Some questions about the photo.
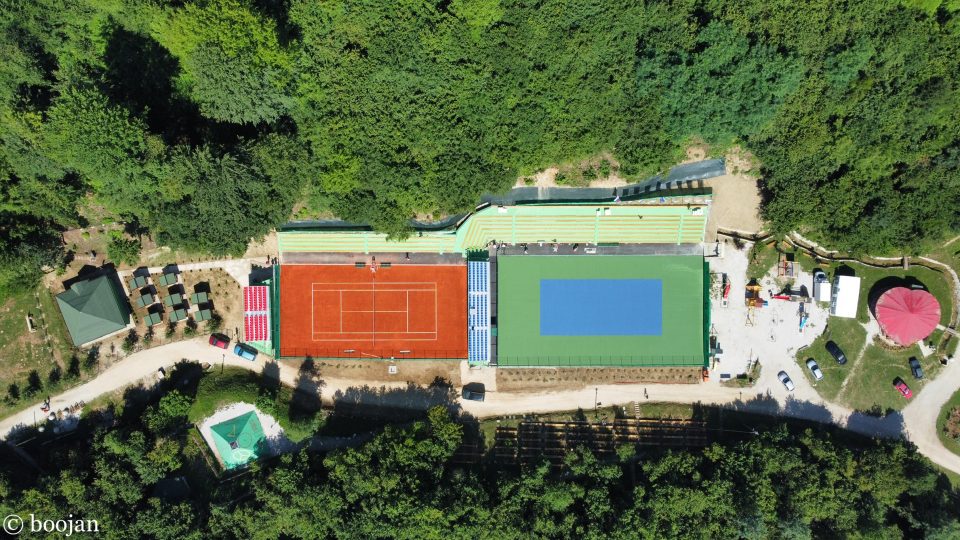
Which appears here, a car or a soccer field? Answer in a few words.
car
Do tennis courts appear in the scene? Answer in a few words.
Yes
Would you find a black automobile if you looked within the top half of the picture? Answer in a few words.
No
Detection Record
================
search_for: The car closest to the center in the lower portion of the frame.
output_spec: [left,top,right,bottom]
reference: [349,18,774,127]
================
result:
[462,389,486,401]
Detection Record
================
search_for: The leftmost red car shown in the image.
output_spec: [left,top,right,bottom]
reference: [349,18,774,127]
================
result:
[209,335,231,349]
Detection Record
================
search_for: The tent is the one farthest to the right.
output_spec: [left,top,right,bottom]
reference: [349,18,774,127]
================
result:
[828,276,861,318]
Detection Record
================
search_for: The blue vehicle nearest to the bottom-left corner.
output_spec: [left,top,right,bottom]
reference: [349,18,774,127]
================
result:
[234,345,259,360]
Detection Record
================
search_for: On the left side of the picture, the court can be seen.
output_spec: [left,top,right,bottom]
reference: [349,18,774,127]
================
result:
[280,263,468,358]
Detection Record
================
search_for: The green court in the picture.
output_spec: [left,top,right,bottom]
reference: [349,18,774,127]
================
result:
[498,254,703,366]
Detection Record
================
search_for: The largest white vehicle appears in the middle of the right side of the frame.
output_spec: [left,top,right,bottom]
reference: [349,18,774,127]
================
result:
[815,274,832,303]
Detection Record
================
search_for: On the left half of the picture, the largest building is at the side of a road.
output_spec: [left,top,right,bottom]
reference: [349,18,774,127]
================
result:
[55,274,143,347]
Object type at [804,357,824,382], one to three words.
car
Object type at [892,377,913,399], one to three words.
car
